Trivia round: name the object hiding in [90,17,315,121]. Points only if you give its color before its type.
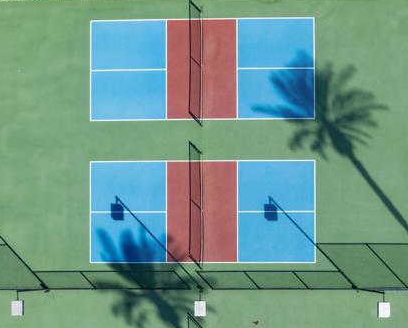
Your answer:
blue sports court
